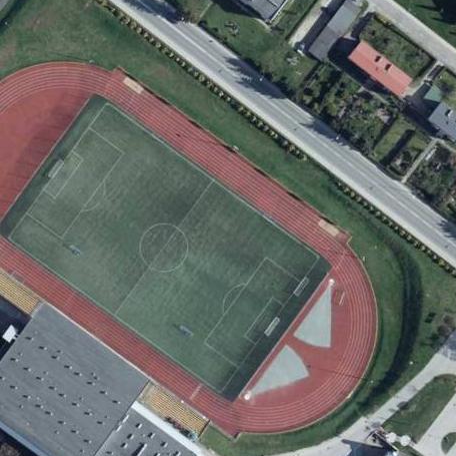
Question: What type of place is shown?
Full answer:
What you see here is a sports ground.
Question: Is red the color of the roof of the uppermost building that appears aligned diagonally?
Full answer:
No, from above the roof of the uppermost building that appears aligned diagonally looks gray.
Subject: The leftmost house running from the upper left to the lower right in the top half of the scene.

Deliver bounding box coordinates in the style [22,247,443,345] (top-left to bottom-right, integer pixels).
[348,40,412,97]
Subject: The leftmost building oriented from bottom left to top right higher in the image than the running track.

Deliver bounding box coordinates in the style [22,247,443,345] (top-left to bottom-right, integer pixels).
[307,0,363,61]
